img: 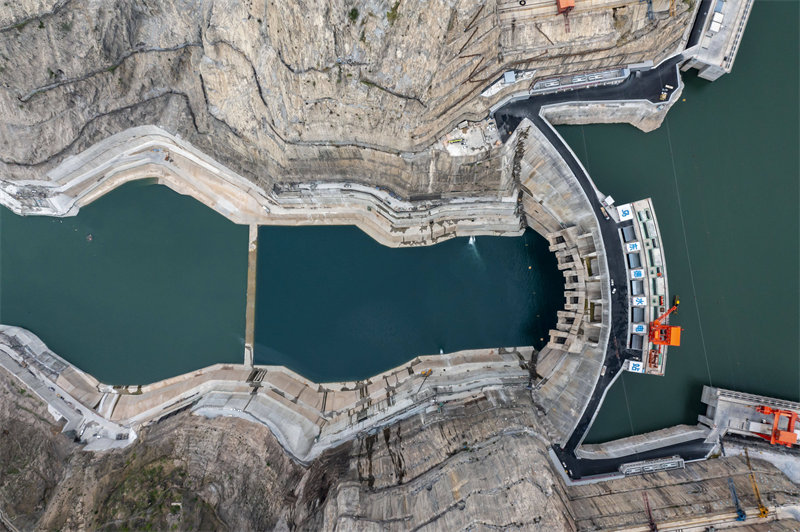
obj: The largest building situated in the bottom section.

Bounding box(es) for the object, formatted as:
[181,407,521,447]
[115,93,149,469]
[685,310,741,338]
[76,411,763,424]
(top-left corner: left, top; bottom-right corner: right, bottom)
[616,442,720,475]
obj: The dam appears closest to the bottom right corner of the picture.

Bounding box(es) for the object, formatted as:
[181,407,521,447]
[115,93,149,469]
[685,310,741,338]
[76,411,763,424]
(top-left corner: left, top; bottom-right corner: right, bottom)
[516,114,668,452]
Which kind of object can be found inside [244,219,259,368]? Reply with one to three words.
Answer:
dam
